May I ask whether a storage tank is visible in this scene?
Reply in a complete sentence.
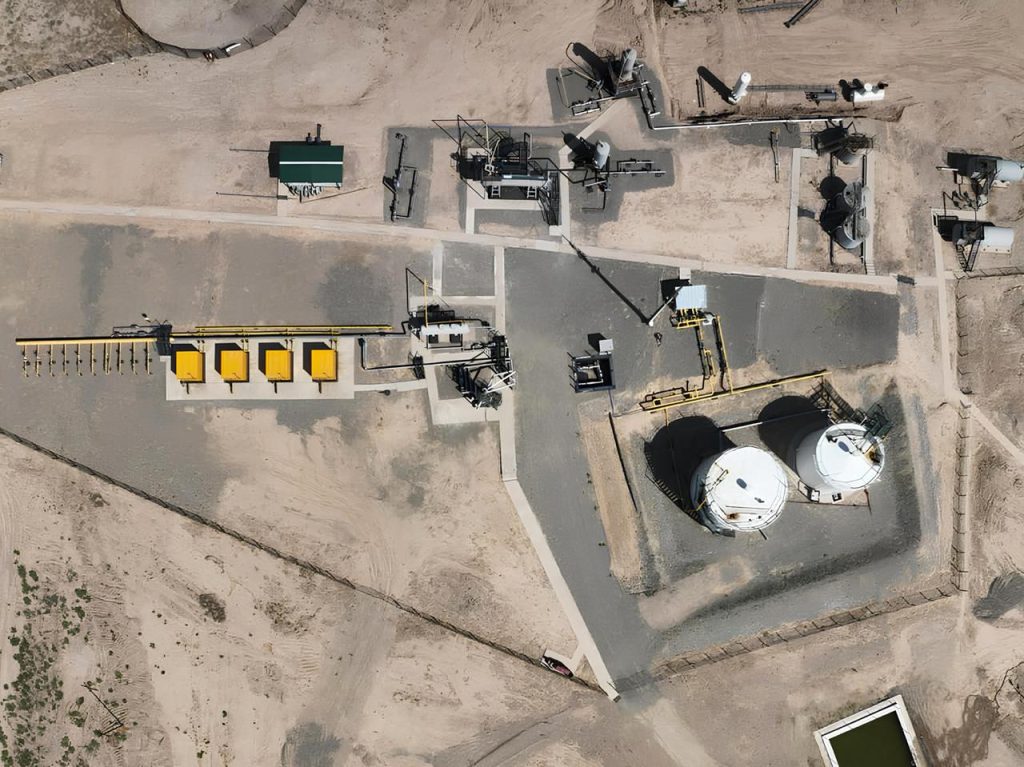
Yes, there's a storage tank down there.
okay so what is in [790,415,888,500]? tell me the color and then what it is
white storage tank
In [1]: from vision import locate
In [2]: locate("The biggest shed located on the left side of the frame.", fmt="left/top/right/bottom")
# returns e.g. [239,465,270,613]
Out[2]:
[279,146,345,192]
